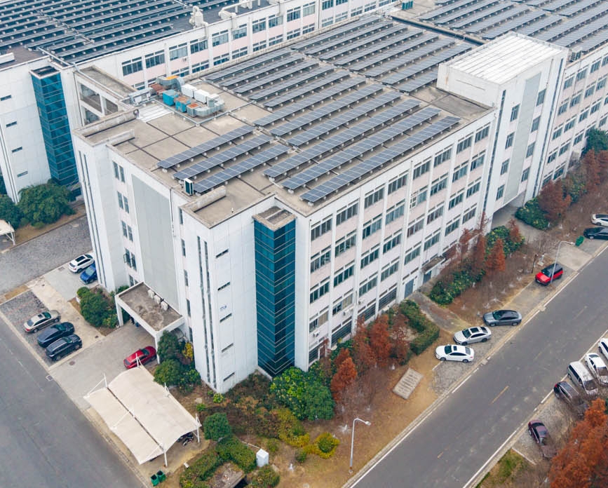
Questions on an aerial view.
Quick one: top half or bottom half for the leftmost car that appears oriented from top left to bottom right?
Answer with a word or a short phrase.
bottom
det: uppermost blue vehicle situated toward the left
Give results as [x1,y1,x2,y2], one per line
[76,264,102,285]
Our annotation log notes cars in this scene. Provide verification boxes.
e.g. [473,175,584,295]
[595,337,608,359]
[435,343,476,364]
[23,310,62,333]
[454,328,493,346]
[64,252,96,272]
[76,264,102,285]
[549,378,587,414]
[523,417,560,457]
[592,214,608,225]
[584,226,608,239]
[35,323,75,345]
[484,309,522,328]
[563,355,602,395]
[533,263,567,284]
[43,334,83,360]
[119,345,155,370]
